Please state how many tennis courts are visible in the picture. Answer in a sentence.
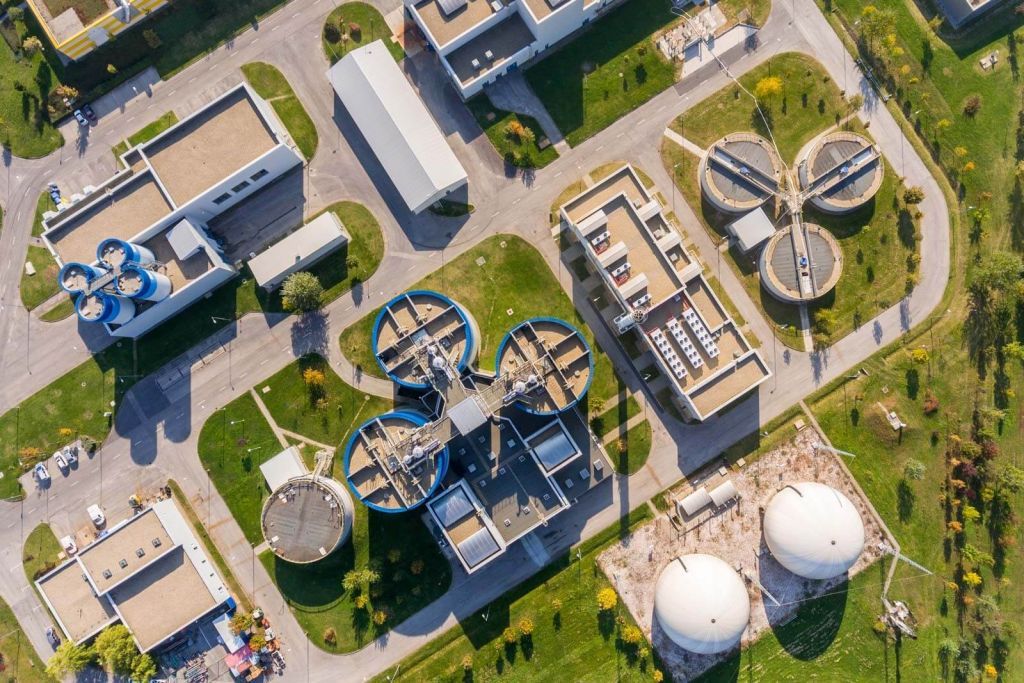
Not a single tennis court can be seen.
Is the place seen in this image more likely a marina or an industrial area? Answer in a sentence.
The area seen from above is an industrial area.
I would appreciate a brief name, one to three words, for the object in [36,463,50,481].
car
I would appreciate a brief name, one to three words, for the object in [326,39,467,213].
shed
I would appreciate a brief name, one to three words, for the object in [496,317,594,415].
storage tank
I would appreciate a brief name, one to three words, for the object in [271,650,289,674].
vehicle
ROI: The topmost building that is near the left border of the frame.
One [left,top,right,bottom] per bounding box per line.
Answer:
[30,0,182,64]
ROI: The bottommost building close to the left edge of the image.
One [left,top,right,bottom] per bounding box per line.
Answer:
[36,498,239,651]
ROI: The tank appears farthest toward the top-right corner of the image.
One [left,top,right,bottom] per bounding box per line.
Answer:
[796,131,886,217]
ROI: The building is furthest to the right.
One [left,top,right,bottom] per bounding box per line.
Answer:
[933,0,997,29]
